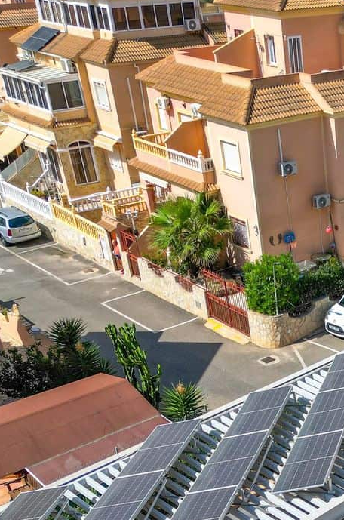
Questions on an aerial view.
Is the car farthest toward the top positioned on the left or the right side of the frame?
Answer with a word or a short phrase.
left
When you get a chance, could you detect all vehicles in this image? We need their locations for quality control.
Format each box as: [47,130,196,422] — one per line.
[0,202,52,245]
[317,291,344,338]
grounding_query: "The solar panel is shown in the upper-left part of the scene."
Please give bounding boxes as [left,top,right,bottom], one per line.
[22,26,65,47]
